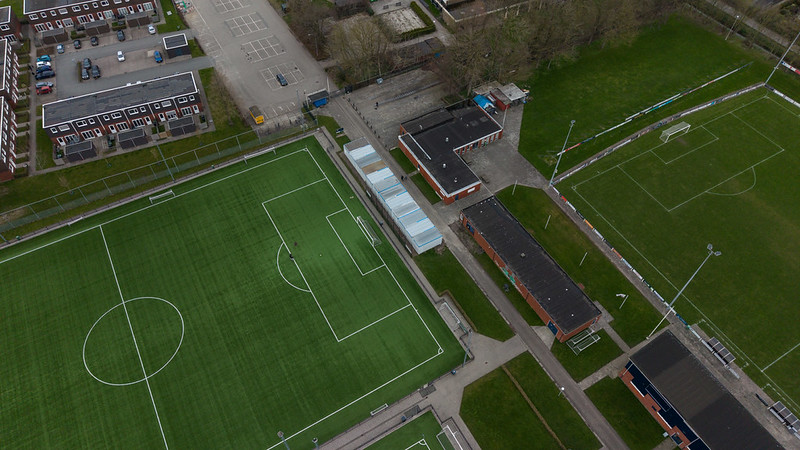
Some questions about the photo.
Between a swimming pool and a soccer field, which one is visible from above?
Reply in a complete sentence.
Looking from above, you can make out a soccer field.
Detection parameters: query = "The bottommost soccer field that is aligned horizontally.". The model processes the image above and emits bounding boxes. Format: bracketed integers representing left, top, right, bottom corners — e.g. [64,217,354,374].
[364,409,455,450]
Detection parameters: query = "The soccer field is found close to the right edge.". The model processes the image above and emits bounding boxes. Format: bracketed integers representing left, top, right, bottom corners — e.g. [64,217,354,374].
[552,84,800,412]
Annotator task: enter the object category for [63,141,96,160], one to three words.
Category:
shed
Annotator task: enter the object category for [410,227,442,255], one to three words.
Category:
building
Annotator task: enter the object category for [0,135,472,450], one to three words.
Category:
soccer field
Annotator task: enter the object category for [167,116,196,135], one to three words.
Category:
shed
